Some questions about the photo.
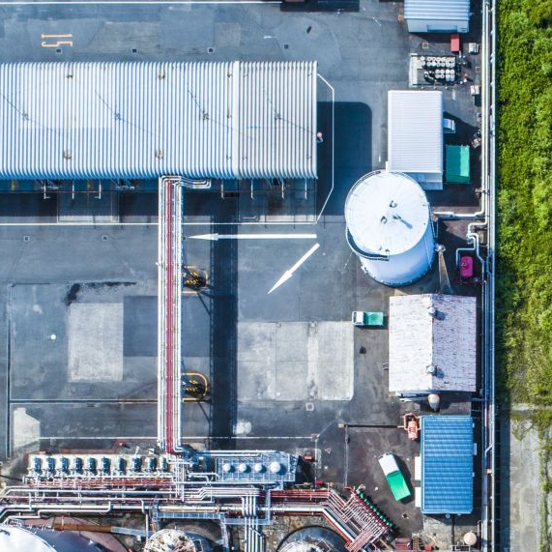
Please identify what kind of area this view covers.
industrial area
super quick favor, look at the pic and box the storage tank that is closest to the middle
[345,167,447,289]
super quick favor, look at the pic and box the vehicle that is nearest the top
[443,114,465,136]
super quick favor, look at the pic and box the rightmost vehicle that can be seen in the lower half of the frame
[374,451,410,501]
